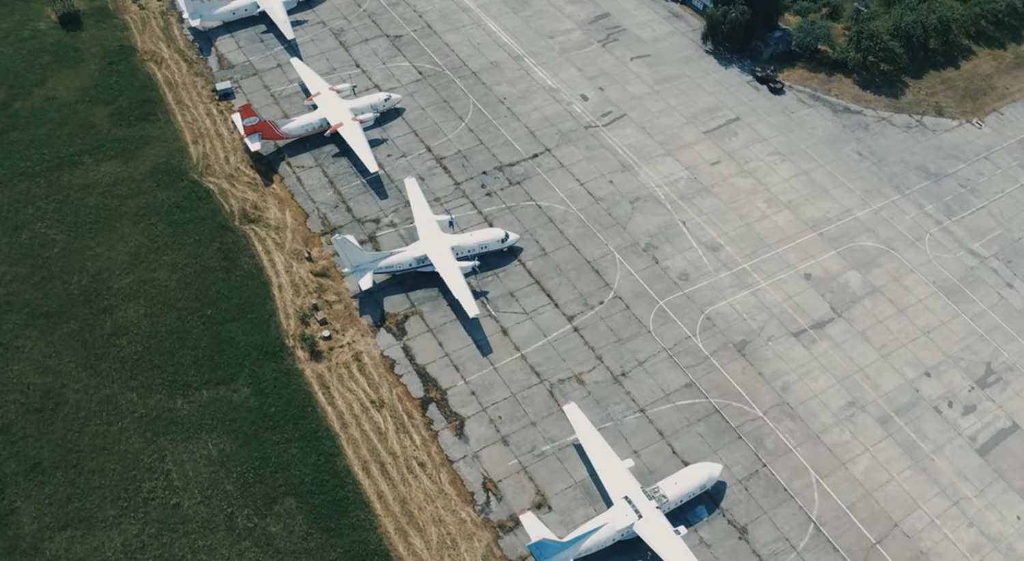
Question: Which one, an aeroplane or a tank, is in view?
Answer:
aeroplane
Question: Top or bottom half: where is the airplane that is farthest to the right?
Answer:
bottom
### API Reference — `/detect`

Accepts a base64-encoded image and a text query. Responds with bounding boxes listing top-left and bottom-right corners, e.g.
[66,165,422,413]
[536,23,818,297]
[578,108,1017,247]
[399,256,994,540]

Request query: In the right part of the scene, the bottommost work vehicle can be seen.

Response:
[757,67,787,92]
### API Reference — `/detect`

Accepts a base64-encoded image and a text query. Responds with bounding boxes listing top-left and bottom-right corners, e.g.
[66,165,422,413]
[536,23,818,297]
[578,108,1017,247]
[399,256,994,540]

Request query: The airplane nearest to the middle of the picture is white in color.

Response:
[329,175,519,319]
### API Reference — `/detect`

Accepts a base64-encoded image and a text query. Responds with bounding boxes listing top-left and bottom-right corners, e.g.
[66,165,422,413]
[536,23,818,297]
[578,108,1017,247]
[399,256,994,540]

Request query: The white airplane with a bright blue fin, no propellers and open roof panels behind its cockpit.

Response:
[515,403,727,561]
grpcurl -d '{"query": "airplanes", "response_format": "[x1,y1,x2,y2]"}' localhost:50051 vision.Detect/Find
[178,0,306,39]
[329,175,519,319]
[230,54,402,172]
[515,403,727,561]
